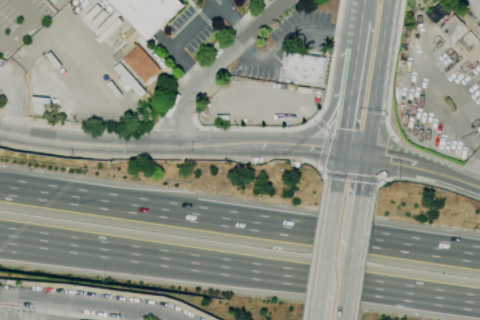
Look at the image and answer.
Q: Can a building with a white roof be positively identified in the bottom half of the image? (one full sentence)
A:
No, no building with a white roof appears in the bottom half of the image.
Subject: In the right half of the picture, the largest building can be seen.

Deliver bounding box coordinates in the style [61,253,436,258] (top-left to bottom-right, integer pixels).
[282,53,327,86]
